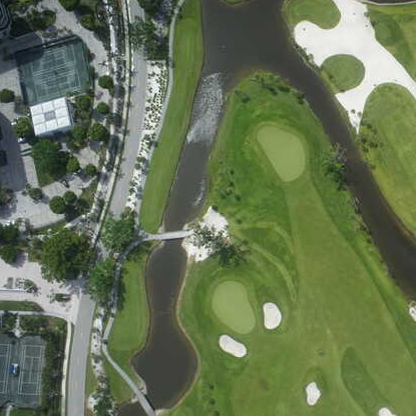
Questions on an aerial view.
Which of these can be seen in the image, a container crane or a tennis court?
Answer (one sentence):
The one in the frame is a tennis court.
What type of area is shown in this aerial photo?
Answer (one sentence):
What you see here is a golf course.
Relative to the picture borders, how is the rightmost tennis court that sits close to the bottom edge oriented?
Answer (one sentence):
What the image shows is the rightmost tennis court that sits close to the bottom edge lying up and down.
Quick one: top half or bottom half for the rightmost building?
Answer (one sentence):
It is in the top half that the rightmost building appears.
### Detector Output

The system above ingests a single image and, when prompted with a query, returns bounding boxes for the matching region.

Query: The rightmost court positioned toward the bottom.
[12,332,49,407]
